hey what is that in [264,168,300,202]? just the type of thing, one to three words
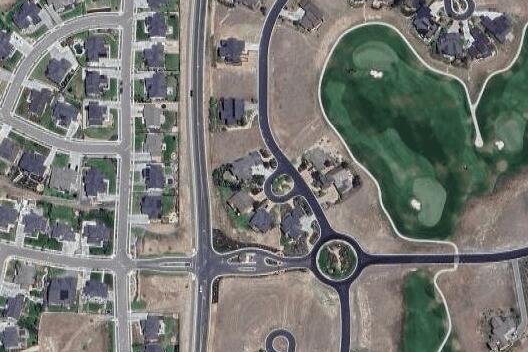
roundabout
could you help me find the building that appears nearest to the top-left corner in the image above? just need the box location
[12,4,41,28]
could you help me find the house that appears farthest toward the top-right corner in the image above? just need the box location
[479,17,513,42]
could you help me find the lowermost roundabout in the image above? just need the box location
[308,232,366,289]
